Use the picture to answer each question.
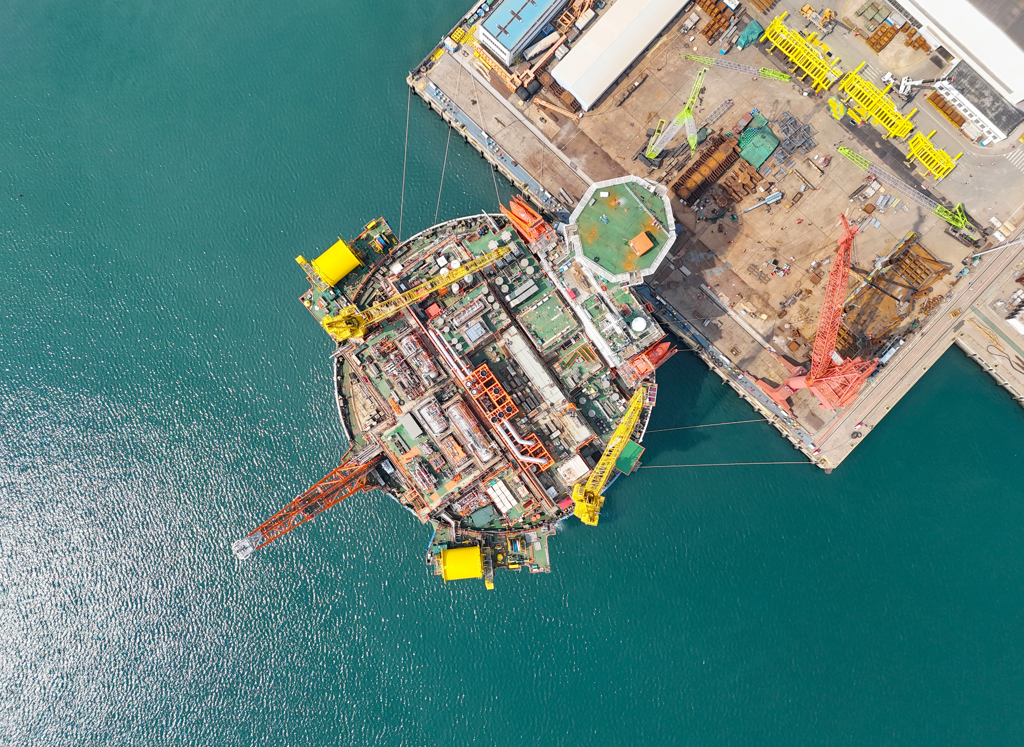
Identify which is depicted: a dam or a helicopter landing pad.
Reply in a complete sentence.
This aerial view contains a helicopter landing pad.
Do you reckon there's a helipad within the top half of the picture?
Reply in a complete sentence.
Yes, within the top half of the picture there is a helipad.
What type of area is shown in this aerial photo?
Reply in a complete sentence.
What you see here is a port.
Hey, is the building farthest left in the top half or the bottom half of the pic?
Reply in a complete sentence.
Seen from above, the building farthest left lies in the top half of the view.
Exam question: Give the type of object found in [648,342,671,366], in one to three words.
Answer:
boat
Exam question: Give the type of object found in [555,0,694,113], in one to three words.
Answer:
shed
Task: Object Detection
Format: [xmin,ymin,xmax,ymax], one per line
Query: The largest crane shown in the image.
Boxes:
[743,209,881,422]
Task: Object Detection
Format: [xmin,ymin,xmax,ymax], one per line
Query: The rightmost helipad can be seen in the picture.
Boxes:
[563,174,677,285]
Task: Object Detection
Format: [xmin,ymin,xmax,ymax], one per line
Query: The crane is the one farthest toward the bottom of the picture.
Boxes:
[571,384,648,527]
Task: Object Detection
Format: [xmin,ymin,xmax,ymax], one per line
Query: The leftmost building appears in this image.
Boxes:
[478,0,572,67]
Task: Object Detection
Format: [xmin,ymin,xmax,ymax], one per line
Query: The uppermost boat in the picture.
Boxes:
[509,200,539,225]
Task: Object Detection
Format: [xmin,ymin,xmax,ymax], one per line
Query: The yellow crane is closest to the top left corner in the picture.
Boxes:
[321,245,516,342]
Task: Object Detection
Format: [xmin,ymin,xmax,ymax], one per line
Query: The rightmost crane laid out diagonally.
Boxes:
[837,145,1001,257]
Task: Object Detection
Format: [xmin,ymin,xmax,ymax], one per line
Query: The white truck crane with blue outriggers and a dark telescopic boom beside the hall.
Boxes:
[878,72,957,109]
